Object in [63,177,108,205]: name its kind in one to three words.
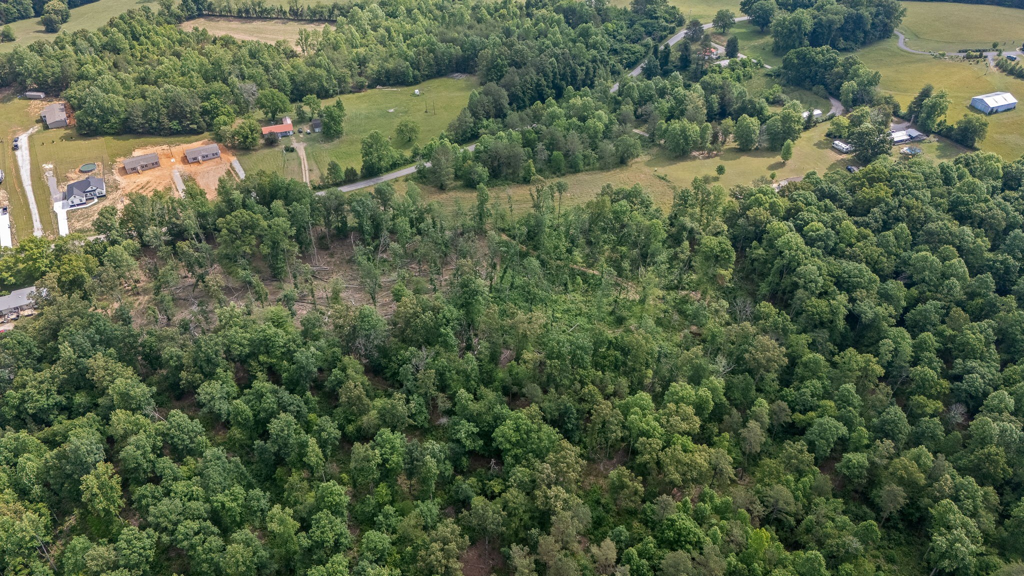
house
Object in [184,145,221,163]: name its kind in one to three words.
house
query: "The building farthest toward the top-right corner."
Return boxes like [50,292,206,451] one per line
[968,93,1020,114]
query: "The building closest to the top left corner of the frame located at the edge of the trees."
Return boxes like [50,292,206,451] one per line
[41,104,71,128]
